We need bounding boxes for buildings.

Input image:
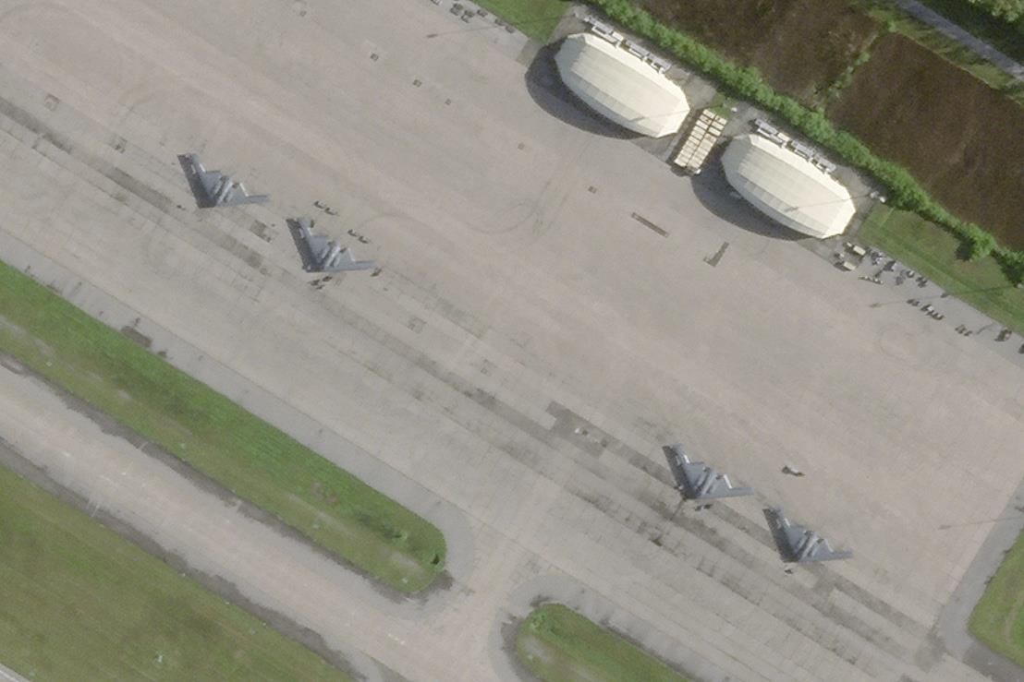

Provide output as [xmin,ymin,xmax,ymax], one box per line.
[554,33,691,138]
[723,135,858,240]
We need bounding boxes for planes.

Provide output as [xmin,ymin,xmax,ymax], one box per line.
[776,507,850,561]
[678,445,752,499]
[193,150,270,205]
[301,216,378,270]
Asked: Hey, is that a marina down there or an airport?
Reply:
airport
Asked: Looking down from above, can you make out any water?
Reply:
No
